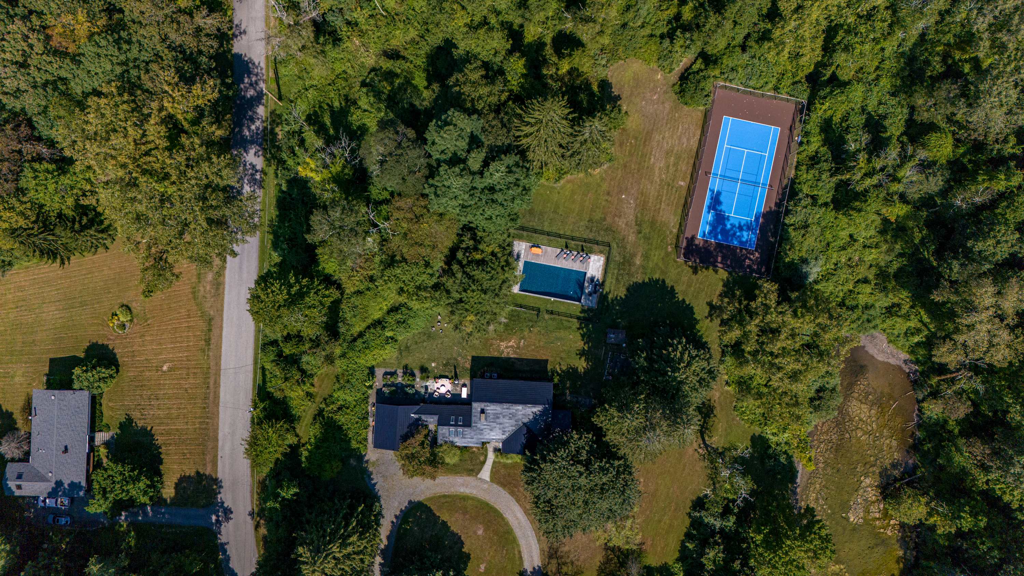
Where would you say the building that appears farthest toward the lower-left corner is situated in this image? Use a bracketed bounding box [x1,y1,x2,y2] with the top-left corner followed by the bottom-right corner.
[2,389,106,497]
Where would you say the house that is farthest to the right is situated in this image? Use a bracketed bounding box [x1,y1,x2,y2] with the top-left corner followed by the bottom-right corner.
[373,375,571,456]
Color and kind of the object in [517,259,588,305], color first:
blue swimming pool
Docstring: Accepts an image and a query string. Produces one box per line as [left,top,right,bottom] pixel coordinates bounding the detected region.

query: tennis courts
[677,87,795,276]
